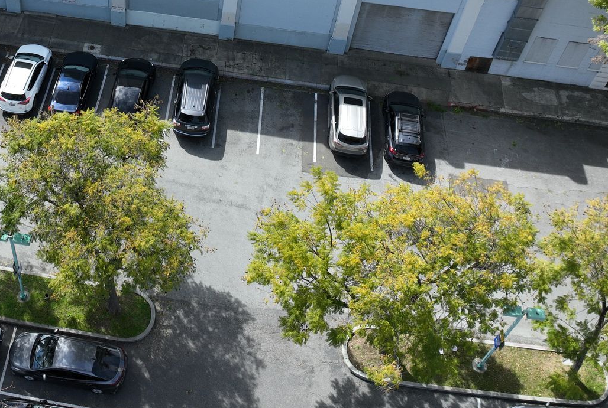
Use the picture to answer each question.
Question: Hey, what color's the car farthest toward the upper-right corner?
black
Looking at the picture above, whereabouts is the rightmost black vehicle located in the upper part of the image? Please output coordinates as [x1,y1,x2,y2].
[377,93,423,167]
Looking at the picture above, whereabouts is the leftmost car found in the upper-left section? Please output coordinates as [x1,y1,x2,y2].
[0,45,44,113]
